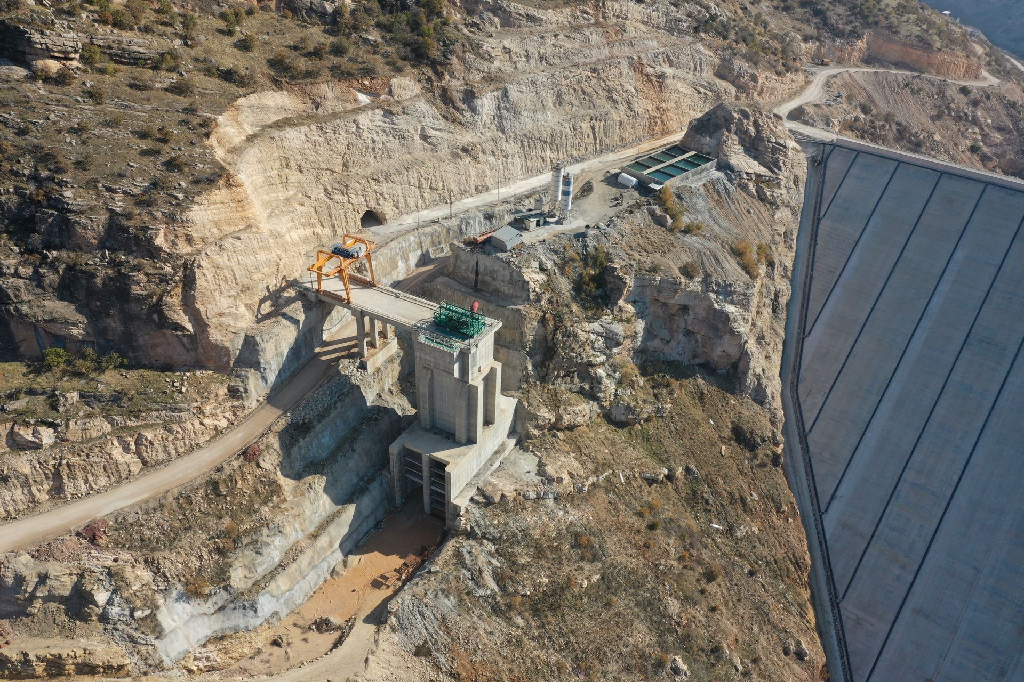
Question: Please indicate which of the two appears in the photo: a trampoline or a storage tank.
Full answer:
Of the two, only a storage tank appears.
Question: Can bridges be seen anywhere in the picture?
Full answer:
Yes, a bridge appears in the view.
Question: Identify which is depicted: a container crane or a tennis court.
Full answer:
Looking from above, you can make out a container crane.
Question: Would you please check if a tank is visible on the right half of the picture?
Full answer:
Yes, looking on the right half of the picture, one can make out a tank.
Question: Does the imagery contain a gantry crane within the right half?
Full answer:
No, within the right half there is no gantry crane.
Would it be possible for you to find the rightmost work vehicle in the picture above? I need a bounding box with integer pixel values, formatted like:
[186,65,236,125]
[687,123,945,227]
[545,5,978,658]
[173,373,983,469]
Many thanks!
[812,53,831,65]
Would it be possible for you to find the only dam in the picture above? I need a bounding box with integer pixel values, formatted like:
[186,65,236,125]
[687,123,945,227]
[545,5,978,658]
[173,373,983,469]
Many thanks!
[780,121,1024,682]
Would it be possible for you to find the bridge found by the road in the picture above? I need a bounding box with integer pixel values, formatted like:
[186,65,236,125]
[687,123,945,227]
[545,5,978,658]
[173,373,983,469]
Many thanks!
[313,273,502,378]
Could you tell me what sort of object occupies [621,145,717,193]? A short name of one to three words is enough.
storage tank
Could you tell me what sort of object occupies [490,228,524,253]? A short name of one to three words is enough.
shed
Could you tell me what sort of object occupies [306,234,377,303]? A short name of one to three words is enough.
container crane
